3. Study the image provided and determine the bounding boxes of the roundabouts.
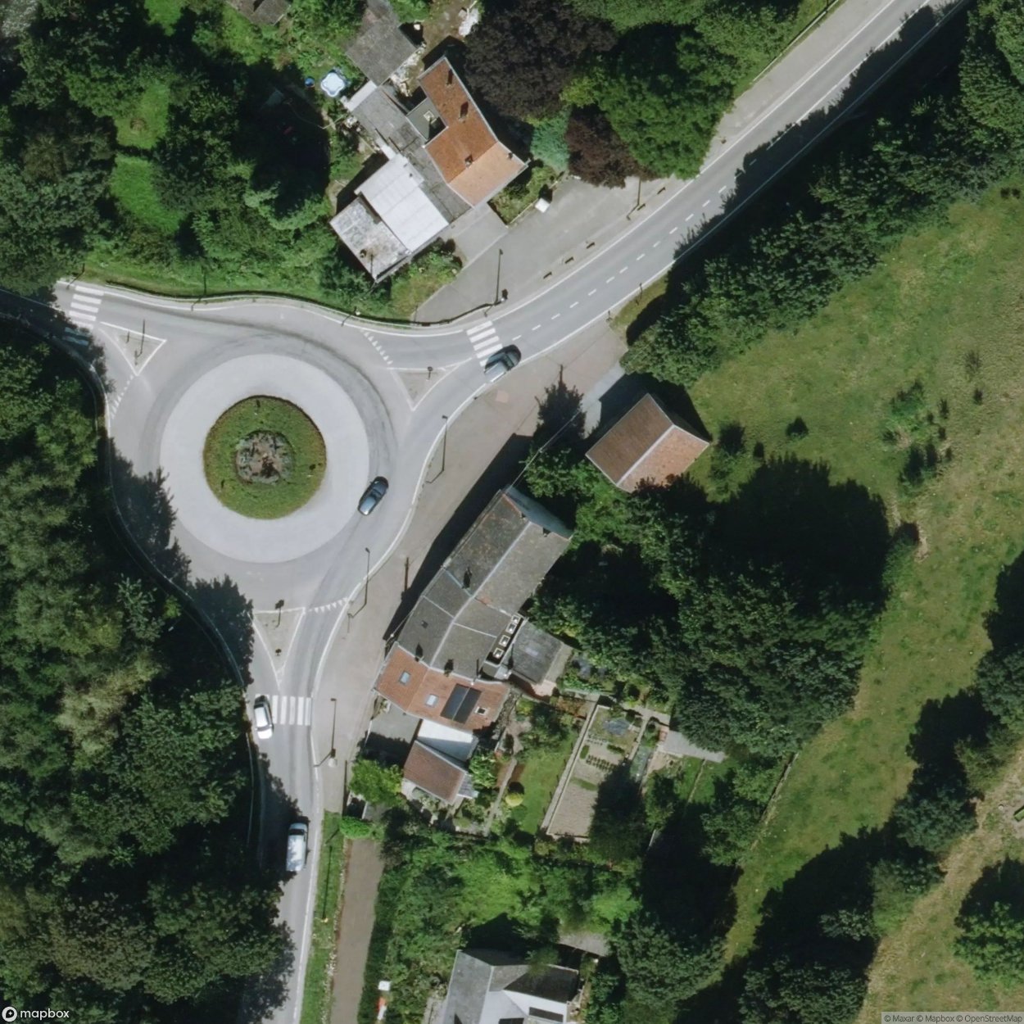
[163,355,367,561]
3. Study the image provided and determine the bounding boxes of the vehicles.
[287,825,308,872]
[358,476,389,516]
[254,698,275,737]
[482,344,524,378]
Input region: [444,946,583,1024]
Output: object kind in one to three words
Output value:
house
